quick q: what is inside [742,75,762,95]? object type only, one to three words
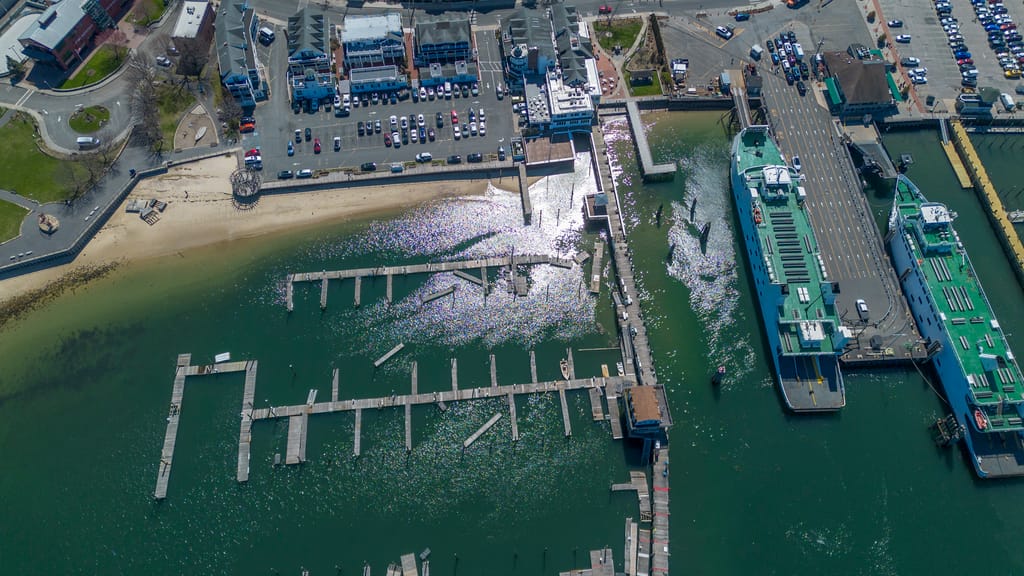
shed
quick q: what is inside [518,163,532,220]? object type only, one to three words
pier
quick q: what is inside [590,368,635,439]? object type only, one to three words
pier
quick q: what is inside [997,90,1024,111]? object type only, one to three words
vehicle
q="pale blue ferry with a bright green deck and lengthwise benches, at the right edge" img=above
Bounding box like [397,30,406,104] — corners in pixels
[887,171,1024,478]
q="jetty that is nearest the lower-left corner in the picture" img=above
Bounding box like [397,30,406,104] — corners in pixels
[154,353,258,500]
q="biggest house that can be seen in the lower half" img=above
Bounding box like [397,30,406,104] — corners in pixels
[621,383,674,462]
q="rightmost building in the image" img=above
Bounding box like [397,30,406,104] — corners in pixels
[946,86,1001,121]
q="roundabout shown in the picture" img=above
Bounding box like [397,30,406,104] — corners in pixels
[66,106,111,134]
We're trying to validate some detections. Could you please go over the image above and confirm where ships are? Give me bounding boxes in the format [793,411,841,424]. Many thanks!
[887,171,1024,478]
[733,125,854,414]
